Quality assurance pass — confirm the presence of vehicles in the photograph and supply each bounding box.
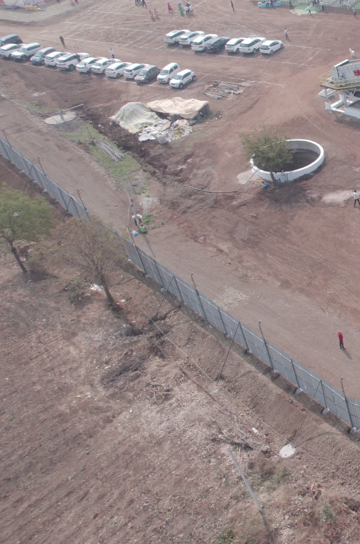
[222,40,241,54]
[258,42,283,56]
[152,60,182,84]
[28,48,55,65]
[188,36,210,53]
[203,37,229,54]
[37,53,64,68]
[167,69,196,87]
[102,63,128,78]
[237,38,264,55]
[74,58,105,75]
[0,34,19,48]
[160,32,187,47]
[52,54,86,71]
[177,34,197,48]
[8,42,42,62]
[87,59,119,76]
[119,64,141,79]
[131,62,160,84]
